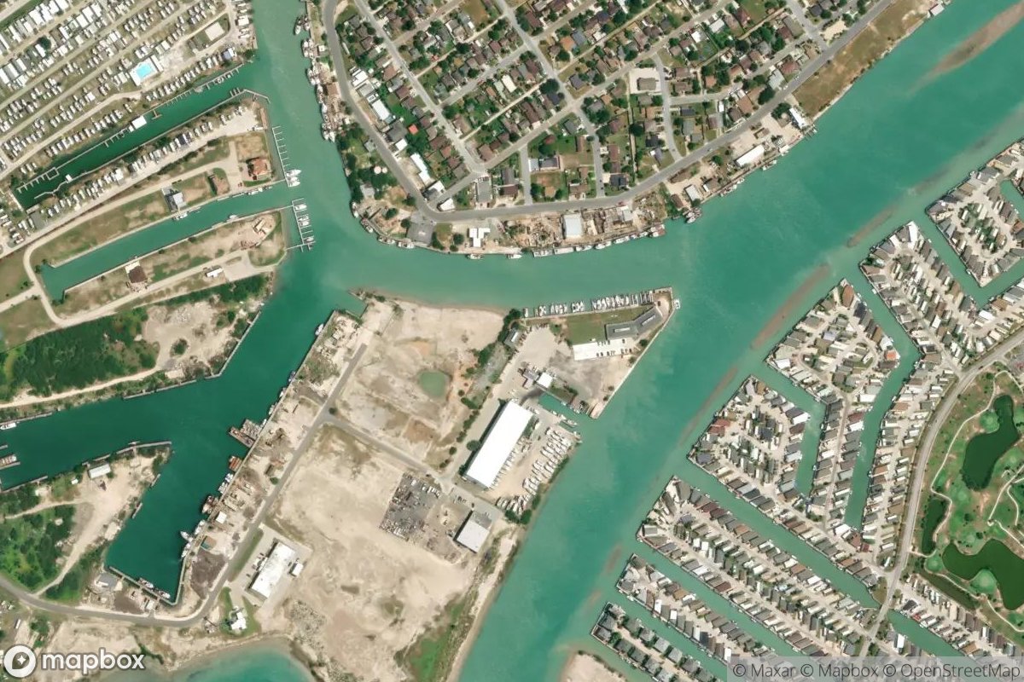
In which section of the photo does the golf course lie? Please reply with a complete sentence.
The golf course is located in the bottom right region of the scene.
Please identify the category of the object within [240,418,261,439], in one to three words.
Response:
ship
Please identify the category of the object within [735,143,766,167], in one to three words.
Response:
building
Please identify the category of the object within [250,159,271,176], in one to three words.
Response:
house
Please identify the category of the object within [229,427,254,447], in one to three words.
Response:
ship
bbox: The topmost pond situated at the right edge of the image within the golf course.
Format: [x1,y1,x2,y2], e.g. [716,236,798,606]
[962,395,1020,491]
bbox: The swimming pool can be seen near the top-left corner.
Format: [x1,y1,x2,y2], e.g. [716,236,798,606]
[131,58,159,84]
